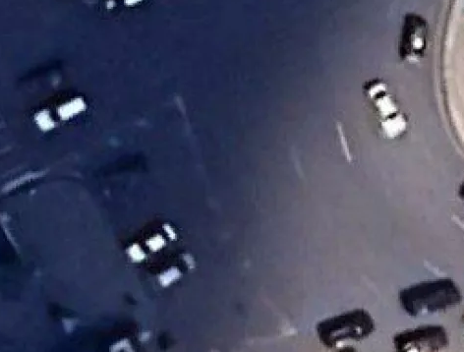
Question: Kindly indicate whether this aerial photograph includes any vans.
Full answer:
Yes, you can see a van in this photo.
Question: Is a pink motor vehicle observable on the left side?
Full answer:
No, no pink motor vehicle appears on the left side.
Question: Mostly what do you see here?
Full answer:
What you mostly see from above here is paved ground.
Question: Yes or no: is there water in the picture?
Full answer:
No, there's no water in this view.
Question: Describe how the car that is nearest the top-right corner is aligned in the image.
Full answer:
In this picture, the car that is nearest the top-right corner lies up and down.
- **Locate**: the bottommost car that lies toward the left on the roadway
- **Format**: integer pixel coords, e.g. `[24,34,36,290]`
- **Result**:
[149,252,193,285]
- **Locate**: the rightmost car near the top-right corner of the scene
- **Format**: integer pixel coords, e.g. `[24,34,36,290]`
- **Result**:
[401,16,425,61]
